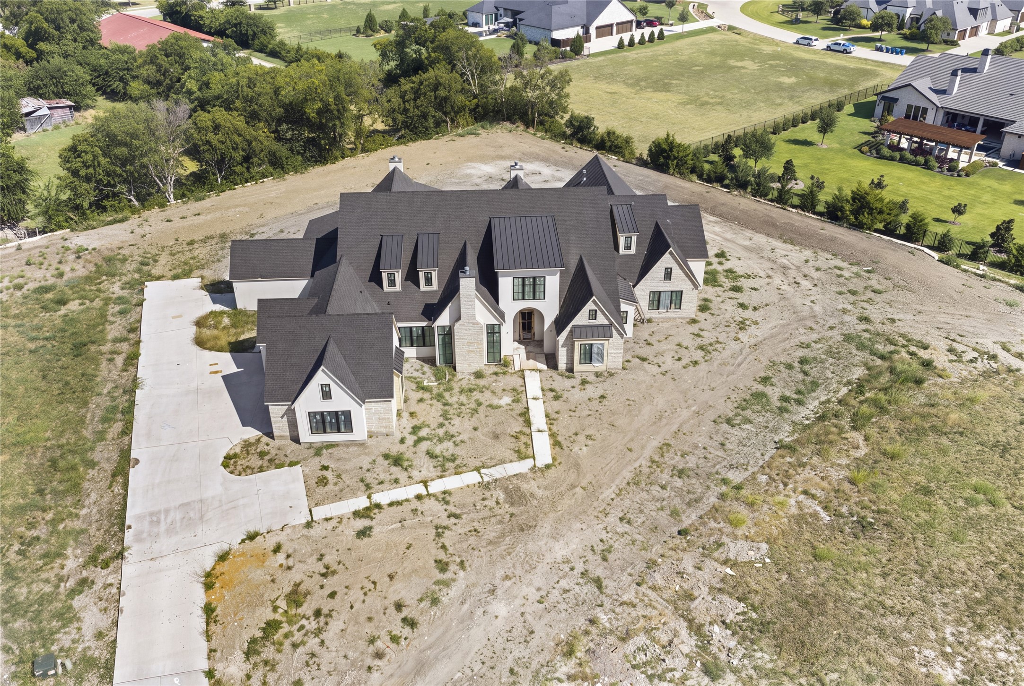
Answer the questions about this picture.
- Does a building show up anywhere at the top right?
Yes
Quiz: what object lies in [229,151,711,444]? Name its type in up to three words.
house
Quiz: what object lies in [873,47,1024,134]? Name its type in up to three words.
house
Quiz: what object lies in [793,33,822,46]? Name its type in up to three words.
vehicle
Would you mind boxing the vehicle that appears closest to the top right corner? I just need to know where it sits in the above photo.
[825,39,860,53]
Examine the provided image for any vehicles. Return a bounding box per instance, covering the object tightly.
[648,15,670,25]
[793,33,822,46]
[639,16,654,27]
[825,39,860,53]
